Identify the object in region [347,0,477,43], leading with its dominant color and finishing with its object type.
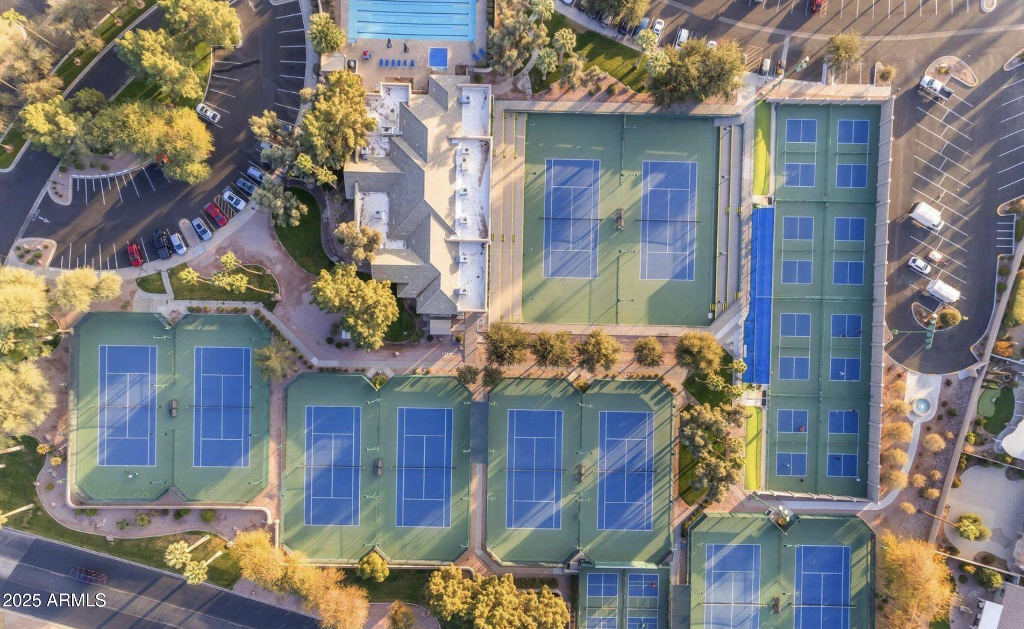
blue swimming pool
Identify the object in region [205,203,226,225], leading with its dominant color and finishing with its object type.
red car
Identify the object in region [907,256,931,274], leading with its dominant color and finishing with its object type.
white car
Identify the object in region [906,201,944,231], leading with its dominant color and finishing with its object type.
white truck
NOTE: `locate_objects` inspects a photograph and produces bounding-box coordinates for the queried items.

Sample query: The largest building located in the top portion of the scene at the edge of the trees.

[343,75,493,314]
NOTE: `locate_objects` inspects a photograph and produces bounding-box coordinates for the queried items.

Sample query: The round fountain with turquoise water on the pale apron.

[911,396,932,418]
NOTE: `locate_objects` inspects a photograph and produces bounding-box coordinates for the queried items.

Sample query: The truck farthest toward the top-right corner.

[920,78,953,100]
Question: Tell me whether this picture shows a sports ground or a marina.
sports ground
